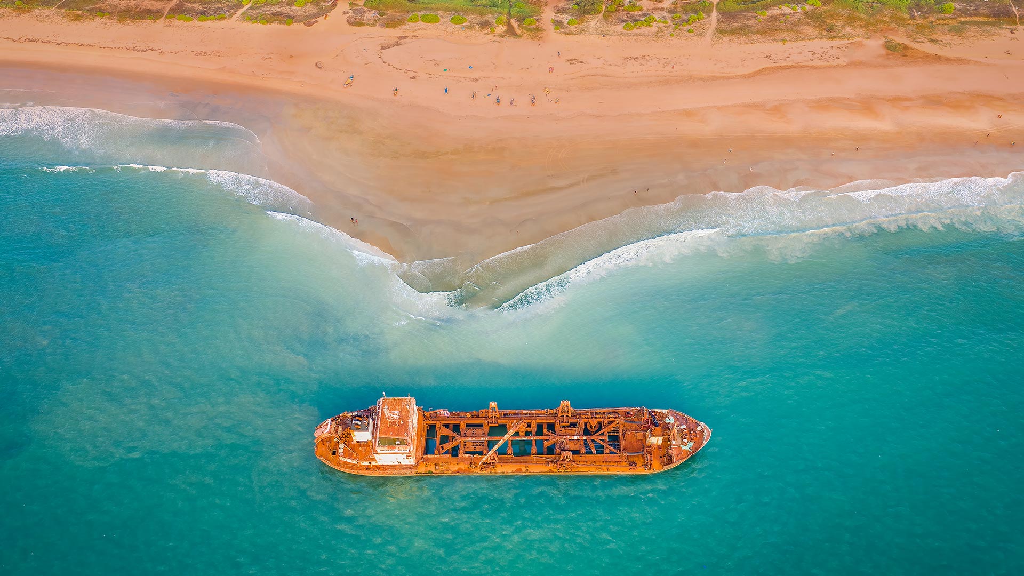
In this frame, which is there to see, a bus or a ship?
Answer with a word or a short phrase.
ship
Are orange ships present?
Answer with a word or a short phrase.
Yes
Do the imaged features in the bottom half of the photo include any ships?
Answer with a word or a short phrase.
Yes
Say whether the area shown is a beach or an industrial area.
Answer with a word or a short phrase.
beach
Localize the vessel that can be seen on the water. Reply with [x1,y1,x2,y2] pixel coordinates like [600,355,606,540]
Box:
[313,392,714,475]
